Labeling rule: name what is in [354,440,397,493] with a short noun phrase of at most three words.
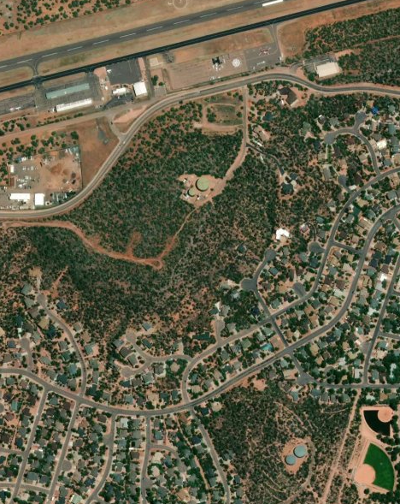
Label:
baseball field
